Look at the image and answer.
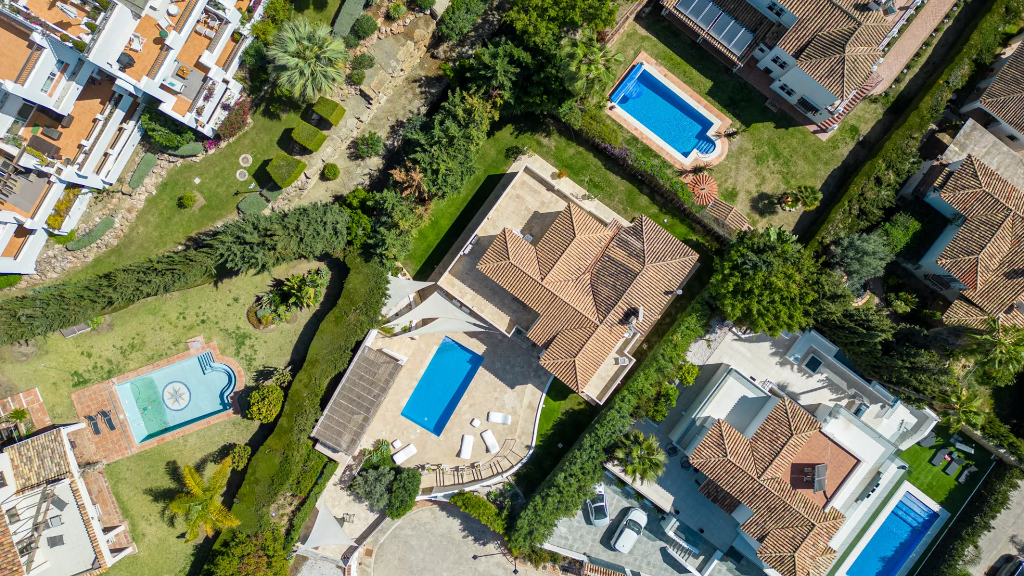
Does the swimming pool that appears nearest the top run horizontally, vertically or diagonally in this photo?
diagonally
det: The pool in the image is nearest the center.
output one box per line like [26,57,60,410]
[401,336,484,437]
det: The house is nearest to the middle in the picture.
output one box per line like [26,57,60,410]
[437,163,700,405]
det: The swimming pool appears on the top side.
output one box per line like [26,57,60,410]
[618,67,715,158]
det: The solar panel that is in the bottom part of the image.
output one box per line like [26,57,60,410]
[806,460,829,501]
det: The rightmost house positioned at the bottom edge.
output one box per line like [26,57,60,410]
[663,364,901,576]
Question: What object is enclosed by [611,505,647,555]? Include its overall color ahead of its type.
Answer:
white car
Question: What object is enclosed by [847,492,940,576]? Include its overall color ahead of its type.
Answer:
blue swimming pool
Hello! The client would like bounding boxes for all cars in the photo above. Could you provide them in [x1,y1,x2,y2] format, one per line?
[590,485,611,529]
[611,505,647,555]
[992,548,1024,576]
